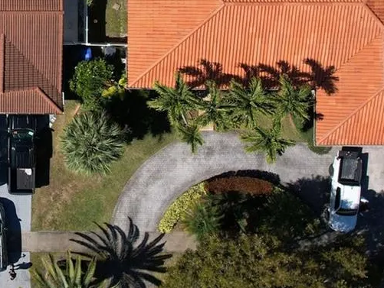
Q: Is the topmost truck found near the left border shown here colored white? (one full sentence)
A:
No, from above the topmost truck found near the left border looks black.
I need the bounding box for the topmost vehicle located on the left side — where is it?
[5,116,41,197]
